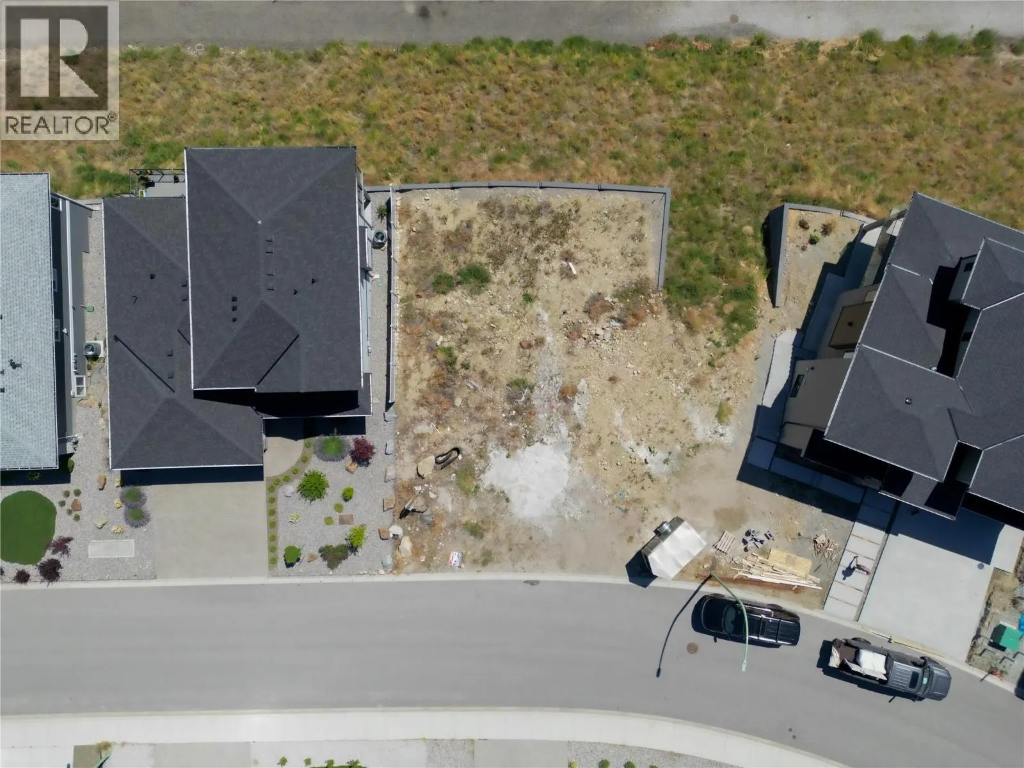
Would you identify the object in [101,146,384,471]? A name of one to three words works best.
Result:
house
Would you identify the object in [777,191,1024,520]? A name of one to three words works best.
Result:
house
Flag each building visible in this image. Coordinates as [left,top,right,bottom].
[0,172,87,473]
[777,191,1024,520]
[101,146,384,471]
